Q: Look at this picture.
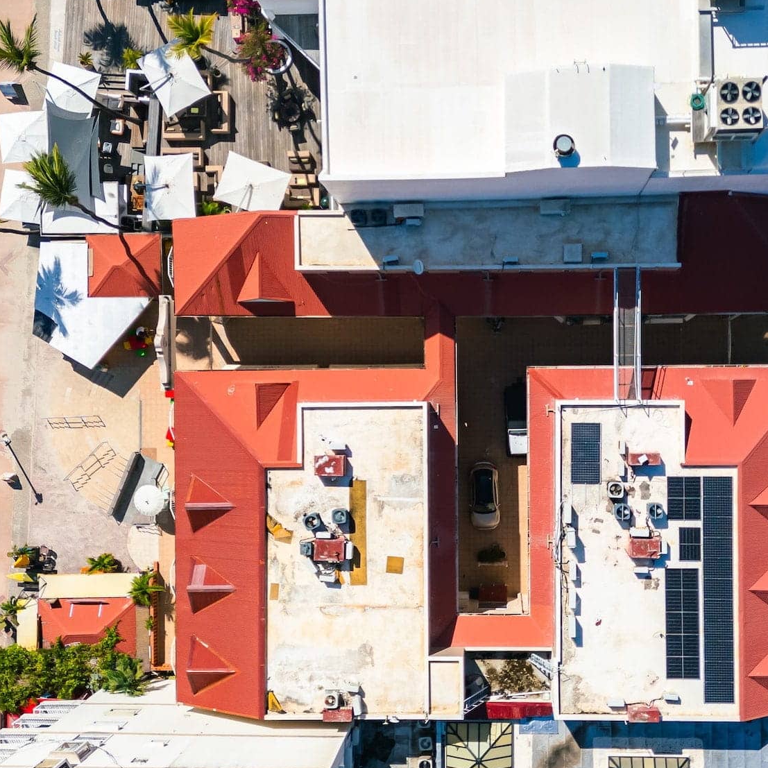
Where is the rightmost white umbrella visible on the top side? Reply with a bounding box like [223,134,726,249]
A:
[213,151,292,214]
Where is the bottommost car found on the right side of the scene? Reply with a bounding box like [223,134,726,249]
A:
[467,462,502,529]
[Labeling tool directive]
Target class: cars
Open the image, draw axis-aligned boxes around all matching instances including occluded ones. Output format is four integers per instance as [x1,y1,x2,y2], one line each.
[467,462,502,529]
[503,385,527,456]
